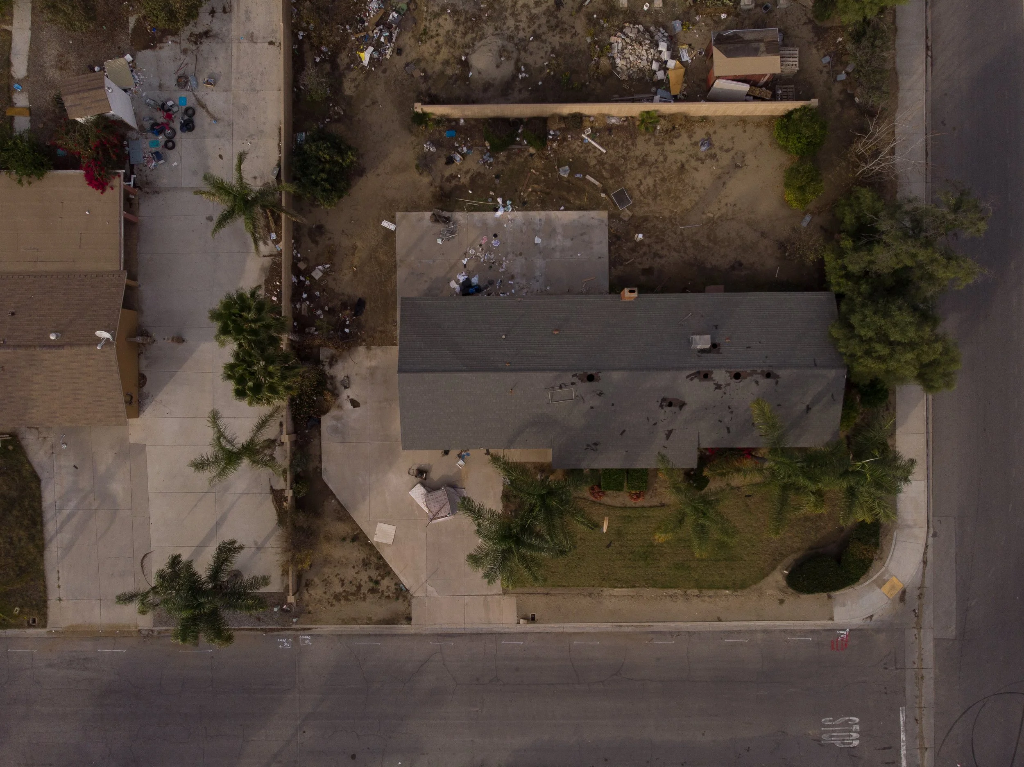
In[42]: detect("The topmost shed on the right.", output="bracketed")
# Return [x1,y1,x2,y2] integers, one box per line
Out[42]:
[704,27,781,88]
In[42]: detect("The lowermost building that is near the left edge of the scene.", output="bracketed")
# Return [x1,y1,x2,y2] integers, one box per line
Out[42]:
[0,166,138,427]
